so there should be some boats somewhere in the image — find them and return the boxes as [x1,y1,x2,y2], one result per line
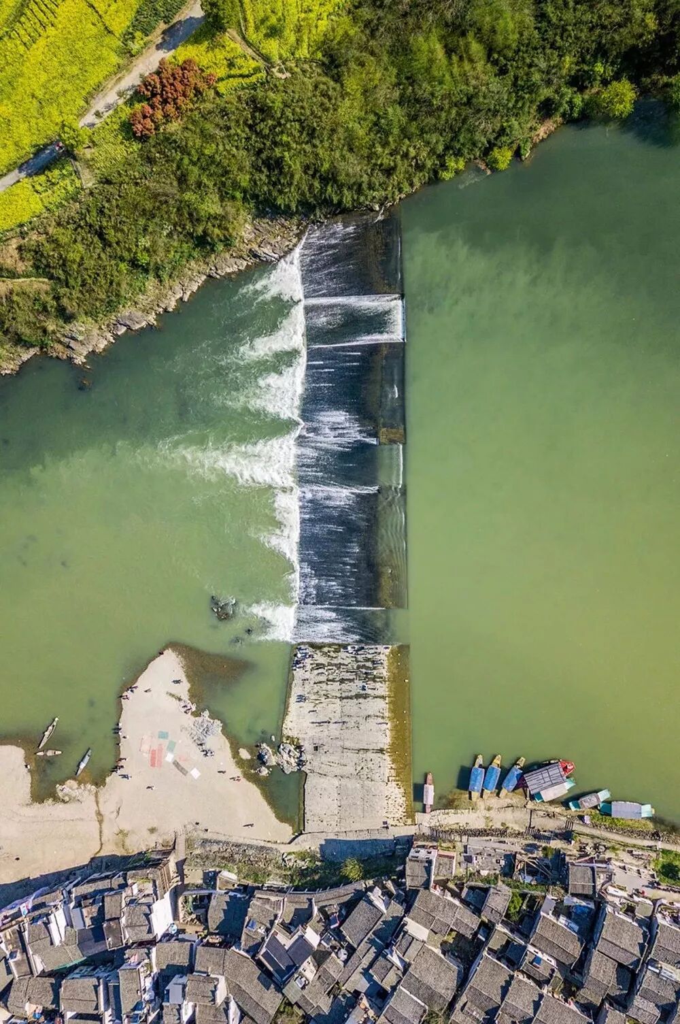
[516,761,577,800]
[497,756,525,800]
[568,788,612,812]
[423,771,434,813]
[38,717,58,749]
[531,776,575,803]
[482,753,502,801]
[549,758,562,764]
[35,750,62,756]
[76,748,91,776]
[597,801,654,820]
[468,754,485,801]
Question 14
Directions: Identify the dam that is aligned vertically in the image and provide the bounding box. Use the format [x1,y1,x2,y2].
[282,205,415,835]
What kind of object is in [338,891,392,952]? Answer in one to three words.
house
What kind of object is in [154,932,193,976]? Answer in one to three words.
house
